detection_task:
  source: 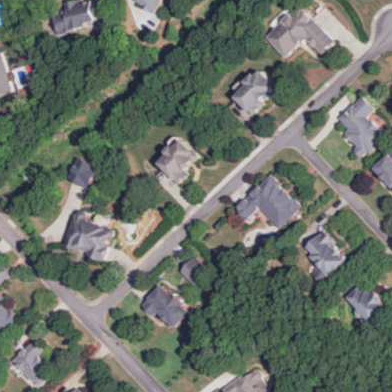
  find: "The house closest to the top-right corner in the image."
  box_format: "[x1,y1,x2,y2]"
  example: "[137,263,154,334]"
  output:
[265,8,336,56]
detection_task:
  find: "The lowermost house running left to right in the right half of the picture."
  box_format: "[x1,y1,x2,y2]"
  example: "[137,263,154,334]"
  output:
[219,370,270,392]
